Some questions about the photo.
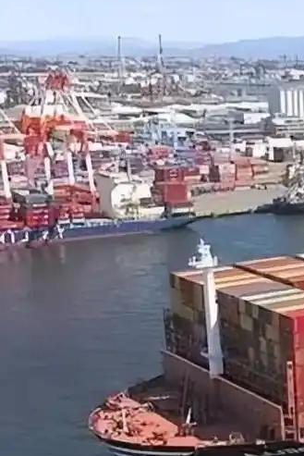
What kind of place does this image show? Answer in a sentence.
It's a port.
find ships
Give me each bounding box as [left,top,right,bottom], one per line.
[257,160,304,214]
[0,164,215,248]
[81,240,304,456]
